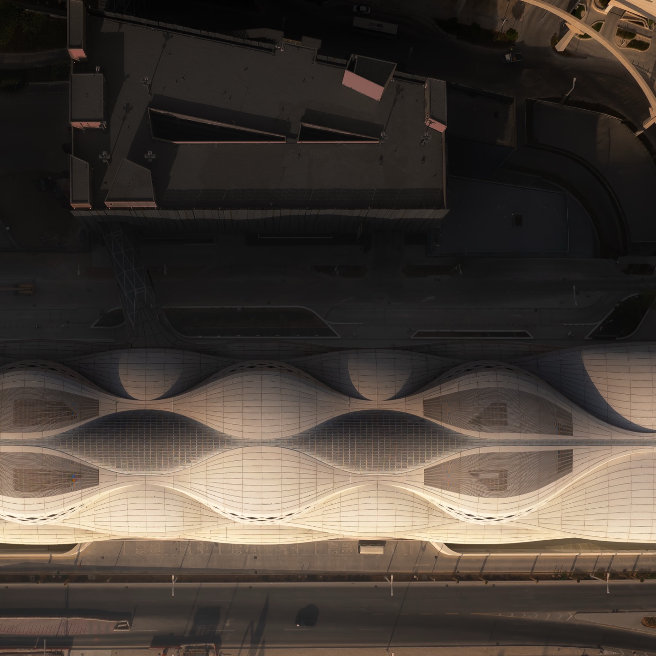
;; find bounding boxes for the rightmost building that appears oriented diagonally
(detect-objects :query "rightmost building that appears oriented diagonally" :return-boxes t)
[519,96,656,253]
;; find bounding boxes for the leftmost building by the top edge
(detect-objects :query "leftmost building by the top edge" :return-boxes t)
[67,0,449,234]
